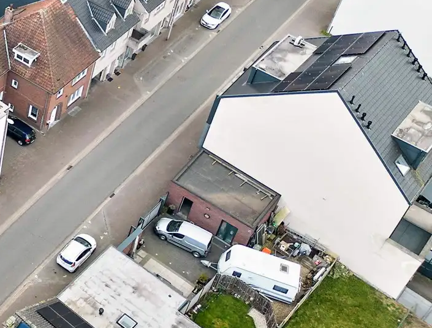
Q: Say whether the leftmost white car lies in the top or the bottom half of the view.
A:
bottom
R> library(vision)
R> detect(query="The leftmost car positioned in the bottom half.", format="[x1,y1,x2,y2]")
[53,231,100,275]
